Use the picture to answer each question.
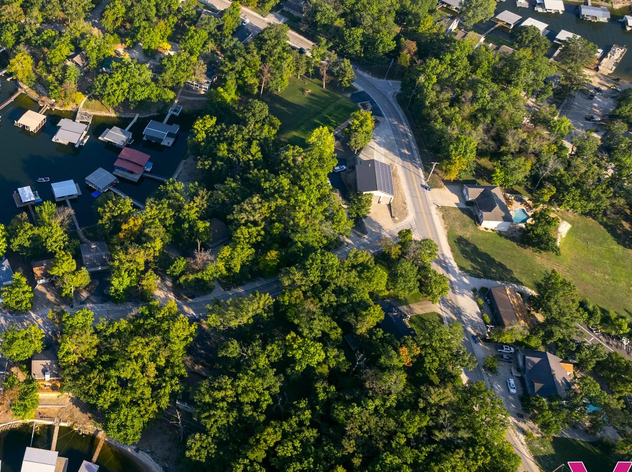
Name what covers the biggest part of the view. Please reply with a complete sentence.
Most of the picture is covered by trees.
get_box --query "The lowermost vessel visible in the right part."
[596,45,626,76]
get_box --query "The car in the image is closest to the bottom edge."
[506,378,519,395]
